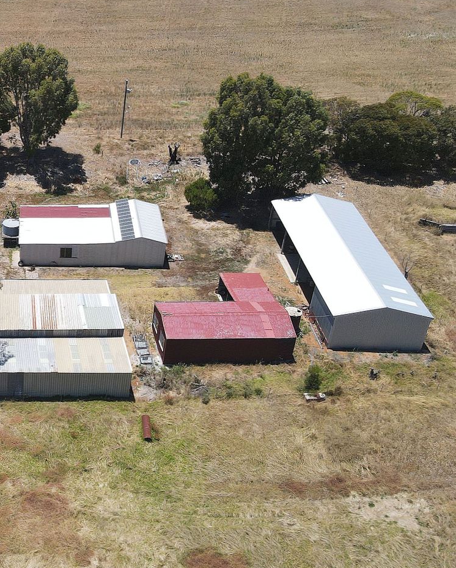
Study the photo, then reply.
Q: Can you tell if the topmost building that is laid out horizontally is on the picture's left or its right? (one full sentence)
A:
The topmost building that is laid out horizontally is on the left side of the image.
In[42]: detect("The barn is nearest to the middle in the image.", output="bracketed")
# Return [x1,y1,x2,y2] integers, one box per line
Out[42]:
[151,273,298,363]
